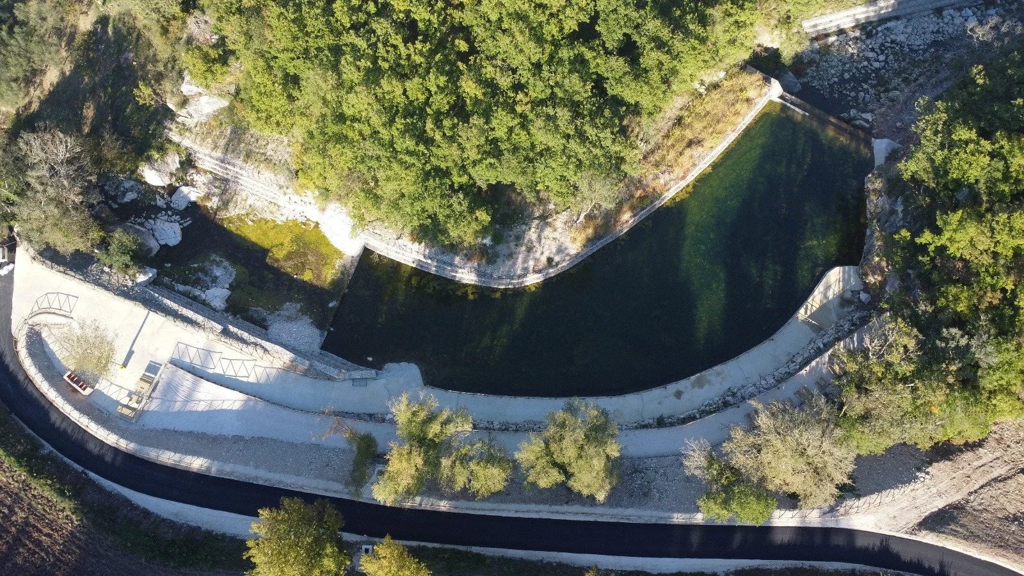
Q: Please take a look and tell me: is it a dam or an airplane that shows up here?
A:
dam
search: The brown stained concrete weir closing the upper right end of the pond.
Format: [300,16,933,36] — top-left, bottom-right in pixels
[776,87,877,141]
